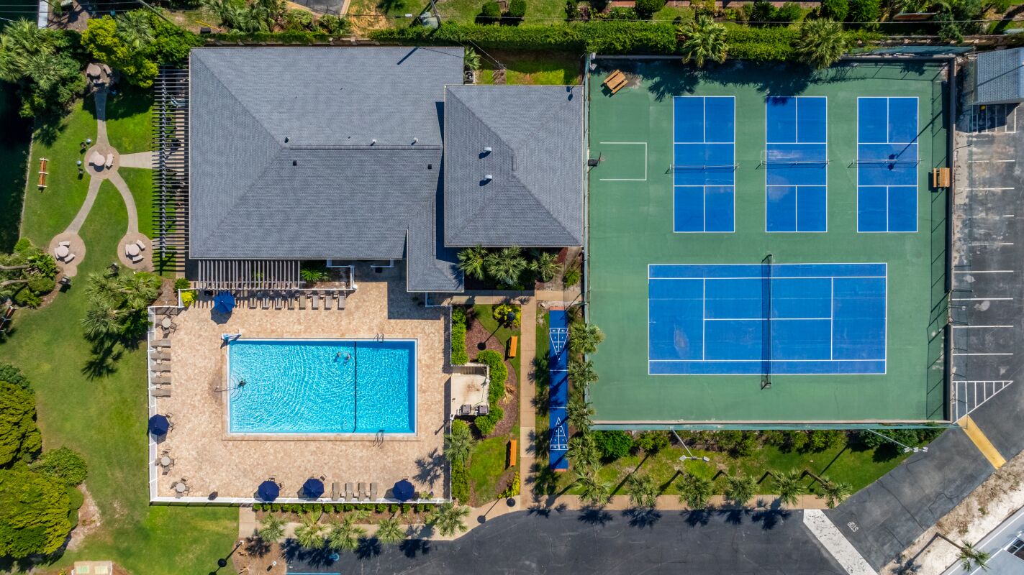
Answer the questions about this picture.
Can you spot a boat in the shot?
No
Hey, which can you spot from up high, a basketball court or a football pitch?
basketball court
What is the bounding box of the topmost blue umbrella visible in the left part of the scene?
[214,290,236,312]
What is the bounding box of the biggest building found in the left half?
[188,46,585,293]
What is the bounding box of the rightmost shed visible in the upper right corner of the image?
[959,48,1024,108]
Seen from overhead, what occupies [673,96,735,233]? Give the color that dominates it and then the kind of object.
blue sports court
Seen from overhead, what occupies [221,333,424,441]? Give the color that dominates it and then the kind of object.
blue swimming pool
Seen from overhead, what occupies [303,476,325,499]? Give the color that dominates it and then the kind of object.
blue umbrella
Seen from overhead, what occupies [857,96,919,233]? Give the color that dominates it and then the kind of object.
blue sports court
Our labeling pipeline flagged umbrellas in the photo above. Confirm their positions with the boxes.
[303,476,325,499]
[393,479,415,501]
[214,290,236,312]
[149,413,173,436]
[258,479,281,502]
